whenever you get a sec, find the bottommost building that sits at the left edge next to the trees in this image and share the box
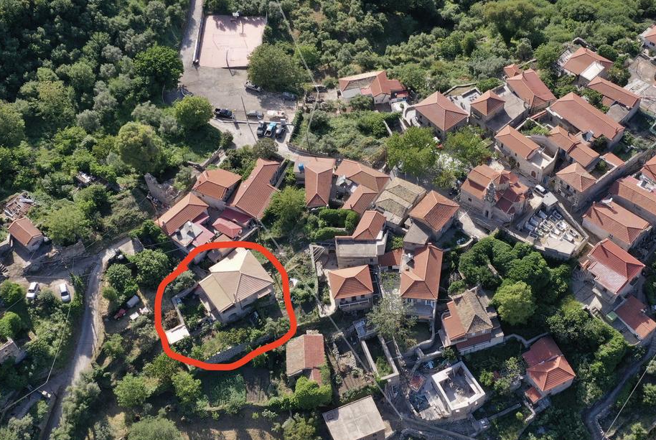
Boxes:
[0,340,25,363]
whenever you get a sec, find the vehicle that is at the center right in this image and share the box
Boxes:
[532,180,549,193]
